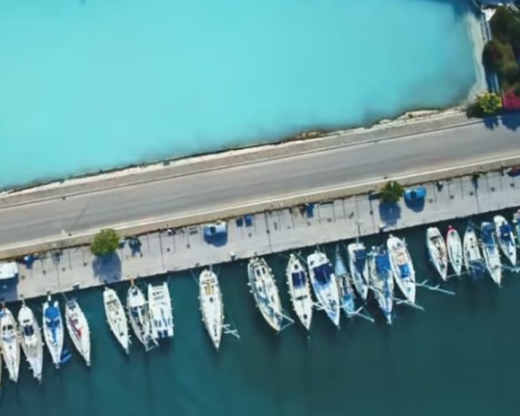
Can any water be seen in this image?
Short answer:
Yes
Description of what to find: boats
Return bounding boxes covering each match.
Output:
[64,287,91,367]
[102,281,130,355]
[41,291,65,370]
[17,296,46,384]
[478,209,520,288]
[460,214,509,277]
[126,276,153,352]
[196,262,242,352]
[445,217,483,276]
[248,253,295,332]
[348,234,389,300]
[0,299,22,383]
[368,231,432,325]
[306,242,371,329]
[383,227,459,305]
[283,250,325,331]
[146,271,175,338]
[491,207,520,267]
[424,220,468,281]
[328,241,369,317]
